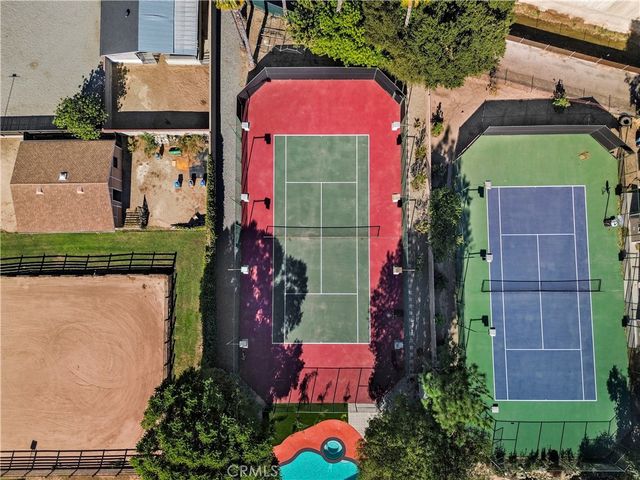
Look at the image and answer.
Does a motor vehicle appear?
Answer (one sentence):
No, no motor vehicle can be seen from above.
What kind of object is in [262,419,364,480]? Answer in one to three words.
swimming pool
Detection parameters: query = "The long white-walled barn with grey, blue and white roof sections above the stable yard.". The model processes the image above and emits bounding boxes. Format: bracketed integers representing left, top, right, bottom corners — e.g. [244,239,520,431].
[106,0,206,65]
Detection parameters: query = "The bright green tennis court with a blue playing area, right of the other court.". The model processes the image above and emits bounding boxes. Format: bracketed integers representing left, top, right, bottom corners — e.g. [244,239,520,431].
[458,134,632,454]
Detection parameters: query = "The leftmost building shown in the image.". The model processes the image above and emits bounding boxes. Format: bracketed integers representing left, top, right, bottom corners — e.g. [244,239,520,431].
[14,141,126,231]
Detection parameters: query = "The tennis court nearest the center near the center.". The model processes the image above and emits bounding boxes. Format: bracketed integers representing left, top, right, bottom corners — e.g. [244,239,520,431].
[241,80,402,403]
